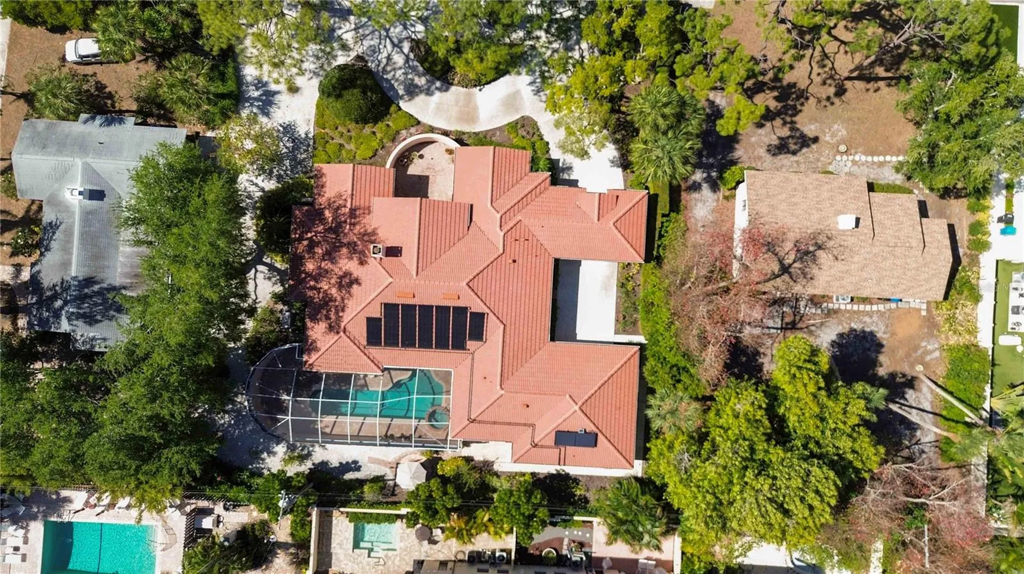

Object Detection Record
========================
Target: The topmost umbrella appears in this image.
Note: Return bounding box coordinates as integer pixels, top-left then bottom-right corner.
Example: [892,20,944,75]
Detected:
[396,456,426,486]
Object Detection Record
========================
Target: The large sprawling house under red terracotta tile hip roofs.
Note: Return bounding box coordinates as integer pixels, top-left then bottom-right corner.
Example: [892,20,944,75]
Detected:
[284,145,649,470]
